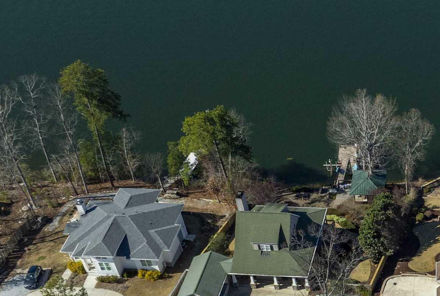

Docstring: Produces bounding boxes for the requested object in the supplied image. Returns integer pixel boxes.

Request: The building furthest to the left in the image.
[57,188,193,279]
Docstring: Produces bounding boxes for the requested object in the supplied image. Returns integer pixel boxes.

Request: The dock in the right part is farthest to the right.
[331,141,362,185]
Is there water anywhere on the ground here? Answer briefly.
Yes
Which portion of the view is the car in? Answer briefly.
bottom left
